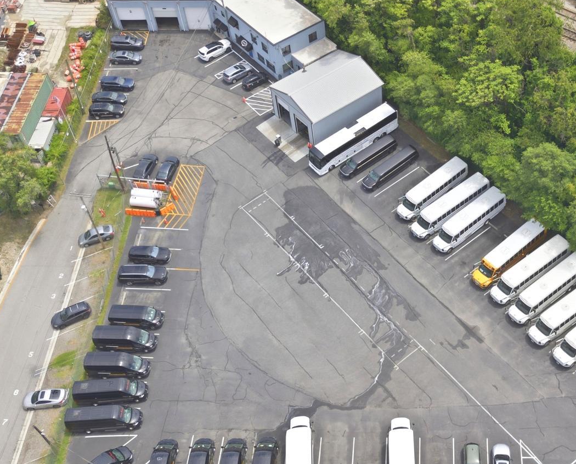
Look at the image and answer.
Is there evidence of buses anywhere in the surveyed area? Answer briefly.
Yes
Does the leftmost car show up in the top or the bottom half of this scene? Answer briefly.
bottom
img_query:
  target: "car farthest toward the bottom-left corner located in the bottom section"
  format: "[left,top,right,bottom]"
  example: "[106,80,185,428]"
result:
[23,387,70,412]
